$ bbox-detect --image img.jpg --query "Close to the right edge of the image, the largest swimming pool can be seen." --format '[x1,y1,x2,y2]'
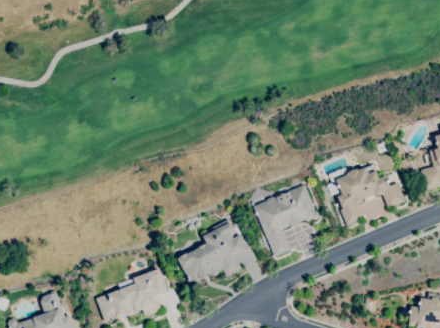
[408,124,428,150]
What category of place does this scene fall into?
golf course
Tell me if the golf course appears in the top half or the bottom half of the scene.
top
